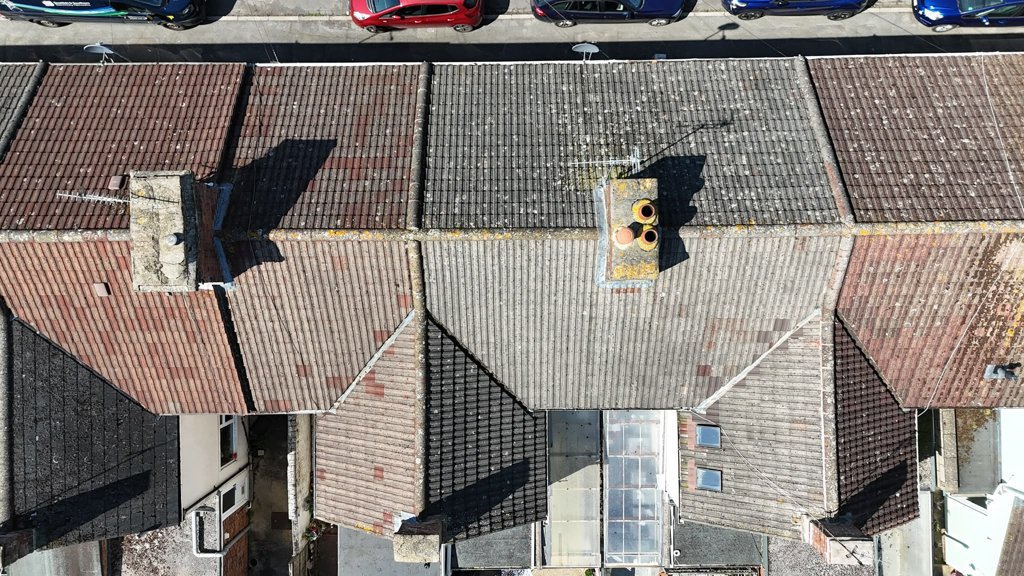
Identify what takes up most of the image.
buildings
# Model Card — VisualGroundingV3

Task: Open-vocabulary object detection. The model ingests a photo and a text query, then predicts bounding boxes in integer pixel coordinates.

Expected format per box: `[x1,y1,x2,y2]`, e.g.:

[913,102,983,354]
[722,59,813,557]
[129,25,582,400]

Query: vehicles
[349,0,483,34]
[531,0,686,28]
[721,0,875,22]
[0,0,211,29]
[910,0,1024,34]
